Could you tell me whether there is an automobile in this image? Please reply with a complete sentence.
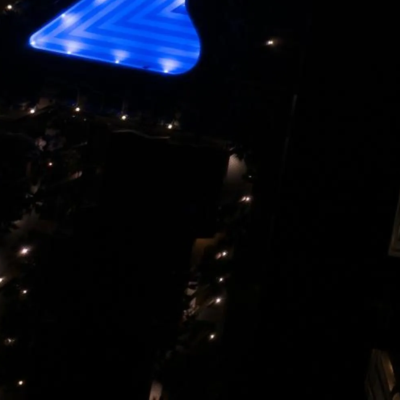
No, this view has no automobile in it.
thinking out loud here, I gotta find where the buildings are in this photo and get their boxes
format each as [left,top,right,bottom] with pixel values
[71,142,238,342]
[269,0,400,351]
